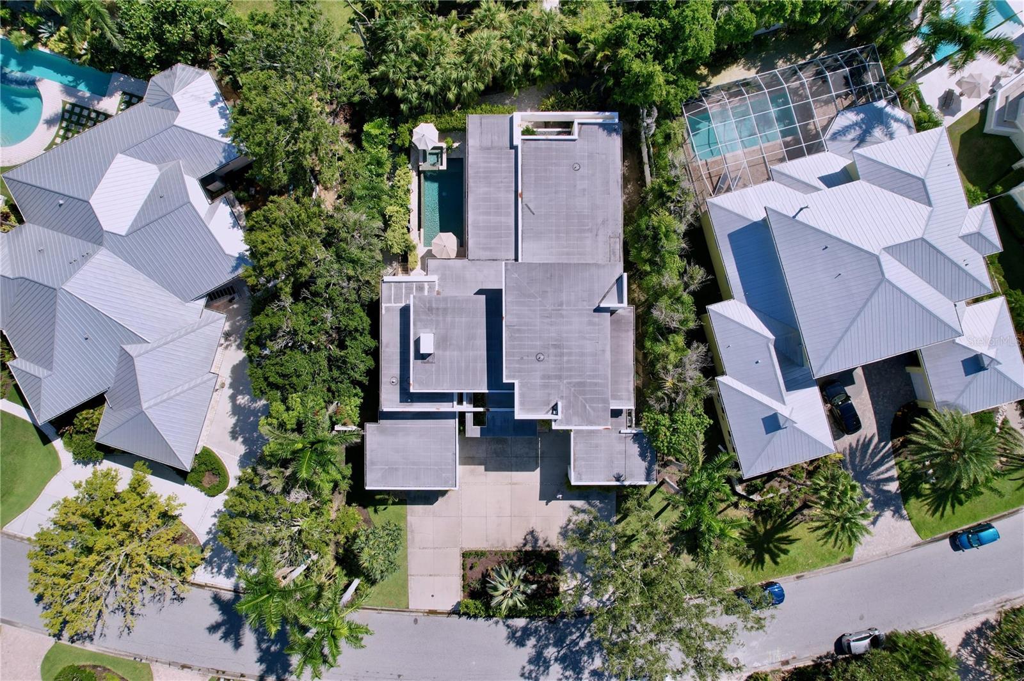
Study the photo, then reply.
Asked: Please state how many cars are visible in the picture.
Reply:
4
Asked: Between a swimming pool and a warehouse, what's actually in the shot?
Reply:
swimming pool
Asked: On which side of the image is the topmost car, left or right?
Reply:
right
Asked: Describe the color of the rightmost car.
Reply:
blue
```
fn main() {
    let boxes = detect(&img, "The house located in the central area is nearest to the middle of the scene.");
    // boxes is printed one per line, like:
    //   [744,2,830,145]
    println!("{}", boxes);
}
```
[365,111,657,491]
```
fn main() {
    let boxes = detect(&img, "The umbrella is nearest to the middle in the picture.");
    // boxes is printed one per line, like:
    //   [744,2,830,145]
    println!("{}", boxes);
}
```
[431,232,459,259]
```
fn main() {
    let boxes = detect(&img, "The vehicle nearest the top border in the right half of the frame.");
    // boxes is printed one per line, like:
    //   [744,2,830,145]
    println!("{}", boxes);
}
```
[823,378,867,439]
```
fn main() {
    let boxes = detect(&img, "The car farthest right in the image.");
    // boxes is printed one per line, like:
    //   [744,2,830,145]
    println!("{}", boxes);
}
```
[958,520,1008,553]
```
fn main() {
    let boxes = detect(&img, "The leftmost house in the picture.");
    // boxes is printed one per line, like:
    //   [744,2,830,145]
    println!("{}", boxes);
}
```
[0,66,255,472]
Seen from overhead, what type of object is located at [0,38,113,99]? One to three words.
swimming pool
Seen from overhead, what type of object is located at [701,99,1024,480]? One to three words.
house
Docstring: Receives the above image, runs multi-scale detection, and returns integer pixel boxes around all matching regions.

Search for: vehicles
[738,583,790,616]
[842,628,895,660]
[823,378,867,439]
[958,520,1008,553]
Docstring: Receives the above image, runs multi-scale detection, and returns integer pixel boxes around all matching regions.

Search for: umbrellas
[956,69,989,103]
[412,122,440,151]
[431,232,459,259]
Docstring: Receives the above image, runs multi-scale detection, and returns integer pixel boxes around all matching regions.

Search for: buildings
[365,111,657,491]
[0,66,255,472]
[973,70,1024,215]
[701,99,1024,480]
